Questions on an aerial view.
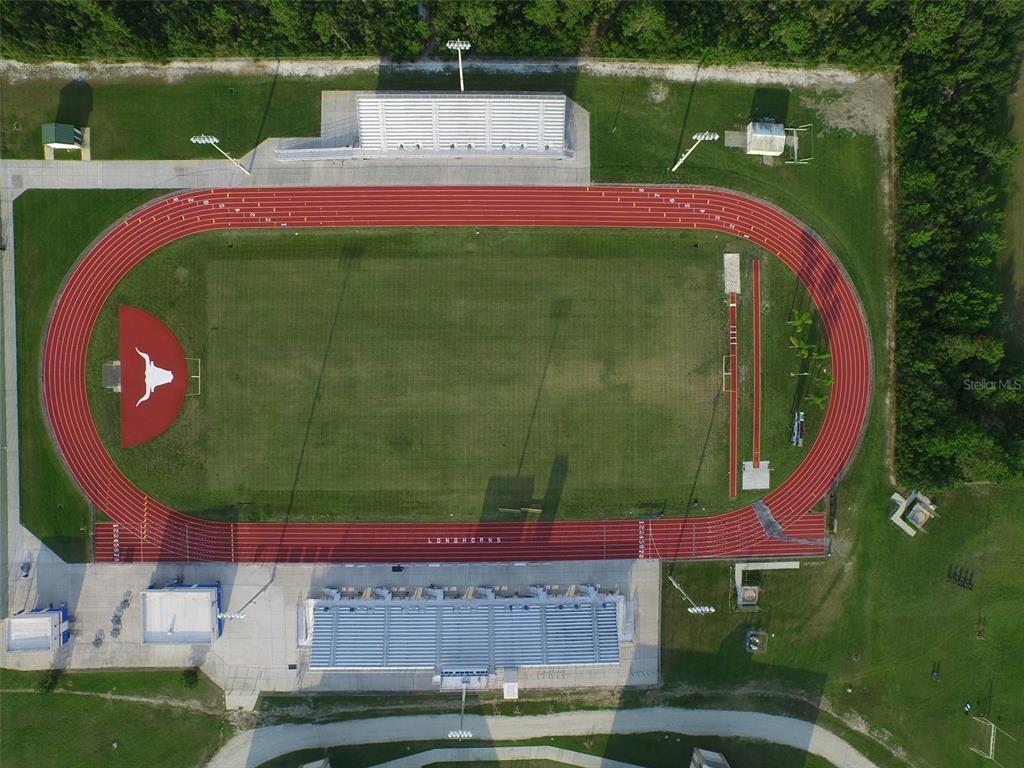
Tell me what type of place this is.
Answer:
sports ground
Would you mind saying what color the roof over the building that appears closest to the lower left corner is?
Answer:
white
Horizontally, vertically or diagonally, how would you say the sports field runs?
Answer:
horizontally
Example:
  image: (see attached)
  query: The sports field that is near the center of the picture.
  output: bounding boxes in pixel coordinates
[206,259,706,490]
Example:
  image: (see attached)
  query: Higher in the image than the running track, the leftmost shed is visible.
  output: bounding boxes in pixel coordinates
[43,121,81,148]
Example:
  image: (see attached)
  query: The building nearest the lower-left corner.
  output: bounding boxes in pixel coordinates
[7,608,72,652]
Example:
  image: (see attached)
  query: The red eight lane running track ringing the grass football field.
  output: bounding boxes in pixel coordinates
[42,183,873,687]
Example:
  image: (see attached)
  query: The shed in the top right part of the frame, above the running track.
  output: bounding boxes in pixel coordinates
[747,120,786,155]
